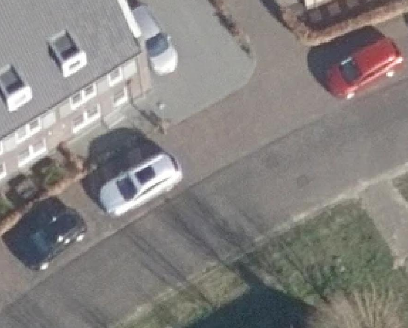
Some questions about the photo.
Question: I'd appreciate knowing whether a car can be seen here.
Yes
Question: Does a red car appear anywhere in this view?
Yes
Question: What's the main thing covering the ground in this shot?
paved ground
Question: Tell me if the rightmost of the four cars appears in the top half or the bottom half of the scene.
top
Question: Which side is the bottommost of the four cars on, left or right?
left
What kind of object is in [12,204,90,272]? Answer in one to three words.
car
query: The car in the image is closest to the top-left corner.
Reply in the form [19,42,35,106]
[127,0,176,80]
